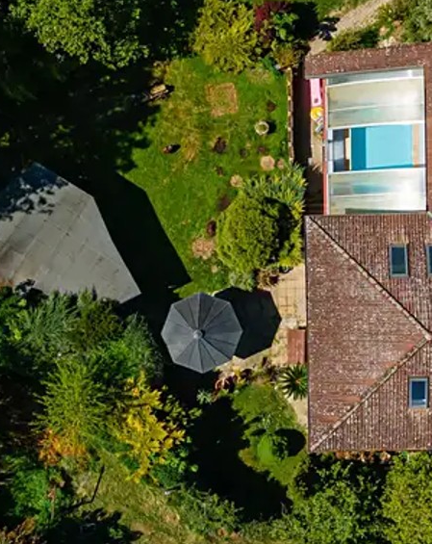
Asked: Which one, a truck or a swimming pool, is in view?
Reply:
swimming pool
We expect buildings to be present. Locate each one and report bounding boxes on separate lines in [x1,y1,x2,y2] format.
[0,163,141,302]
[302,36,432,455]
